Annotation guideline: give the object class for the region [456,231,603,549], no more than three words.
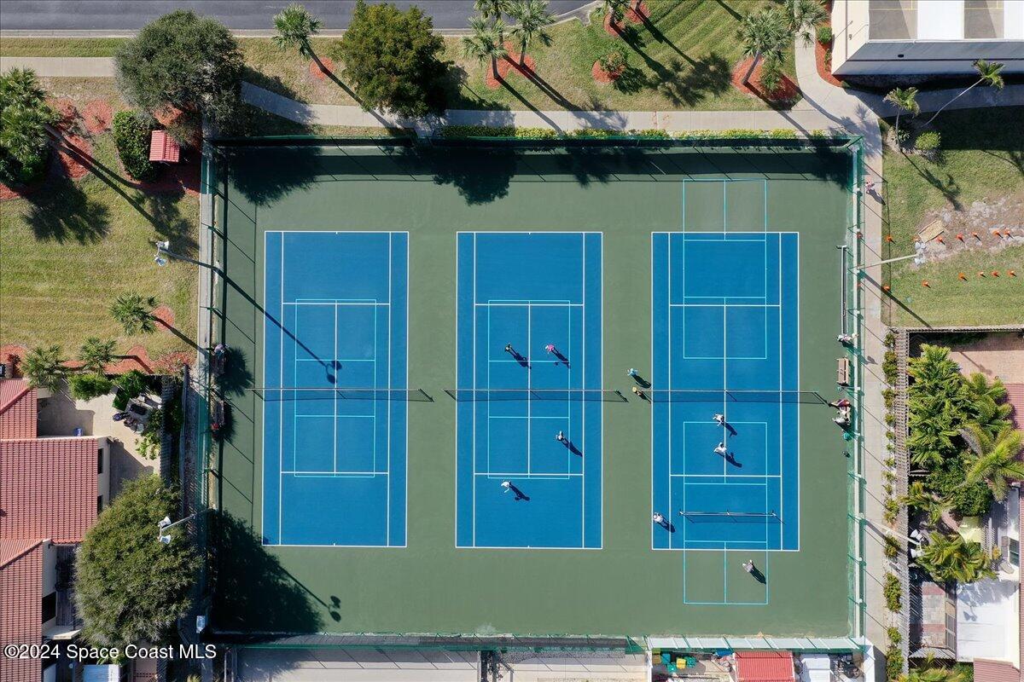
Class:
tennis court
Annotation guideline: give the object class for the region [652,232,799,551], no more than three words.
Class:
tennis court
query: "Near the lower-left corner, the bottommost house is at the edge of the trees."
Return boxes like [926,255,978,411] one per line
[0,544,79,682]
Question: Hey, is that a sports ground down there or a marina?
sports ground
